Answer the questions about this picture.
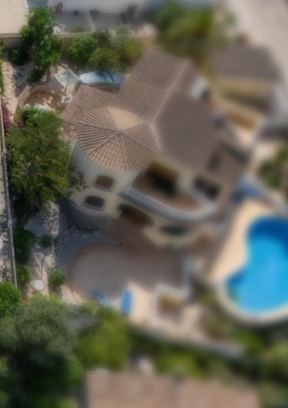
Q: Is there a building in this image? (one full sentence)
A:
Yes, there's a building here.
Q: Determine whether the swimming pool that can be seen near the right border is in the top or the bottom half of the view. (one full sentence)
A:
The bottom half of the photo is where the swimming pool that can be seen near the right border is.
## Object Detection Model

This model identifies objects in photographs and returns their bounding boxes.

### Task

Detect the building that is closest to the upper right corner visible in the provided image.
[202,45,277,104]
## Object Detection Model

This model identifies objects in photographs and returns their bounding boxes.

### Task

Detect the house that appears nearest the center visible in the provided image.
[60,50,247,255]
